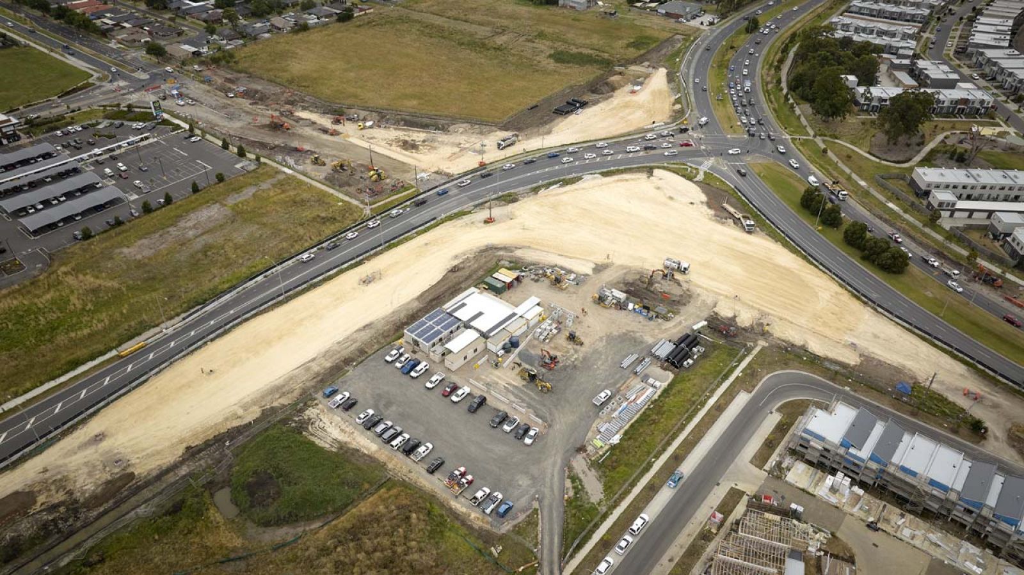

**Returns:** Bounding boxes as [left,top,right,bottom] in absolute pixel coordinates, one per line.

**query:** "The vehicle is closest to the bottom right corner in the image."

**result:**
[860,499,891,537]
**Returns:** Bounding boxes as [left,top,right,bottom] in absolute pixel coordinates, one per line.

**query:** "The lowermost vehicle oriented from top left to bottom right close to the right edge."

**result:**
[1001,312,1022,326]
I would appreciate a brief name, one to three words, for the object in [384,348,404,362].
vehicle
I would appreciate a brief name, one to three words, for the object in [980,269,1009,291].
work vehicle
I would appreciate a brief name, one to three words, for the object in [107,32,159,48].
house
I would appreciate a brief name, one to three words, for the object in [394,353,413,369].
car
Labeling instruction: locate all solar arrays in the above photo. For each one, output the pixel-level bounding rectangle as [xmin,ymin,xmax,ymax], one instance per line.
[440,318,461,332]
[414,324,436,338]
[432,314,453,327]
[423,329,445,343]
[424,309,446,322]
